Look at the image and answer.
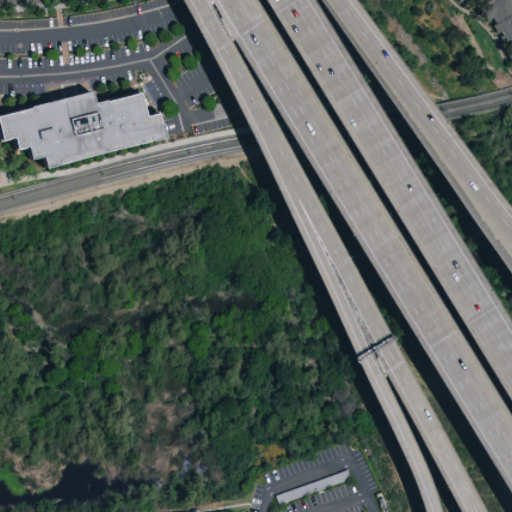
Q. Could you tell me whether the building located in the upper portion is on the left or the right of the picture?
left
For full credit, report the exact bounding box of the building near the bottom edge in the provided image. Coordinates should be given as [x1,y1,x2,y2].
[276,470,350,504]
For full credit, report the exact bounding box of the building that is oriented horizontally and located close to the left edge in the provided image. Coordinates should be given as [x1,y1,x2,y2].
[0,92,168,170]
